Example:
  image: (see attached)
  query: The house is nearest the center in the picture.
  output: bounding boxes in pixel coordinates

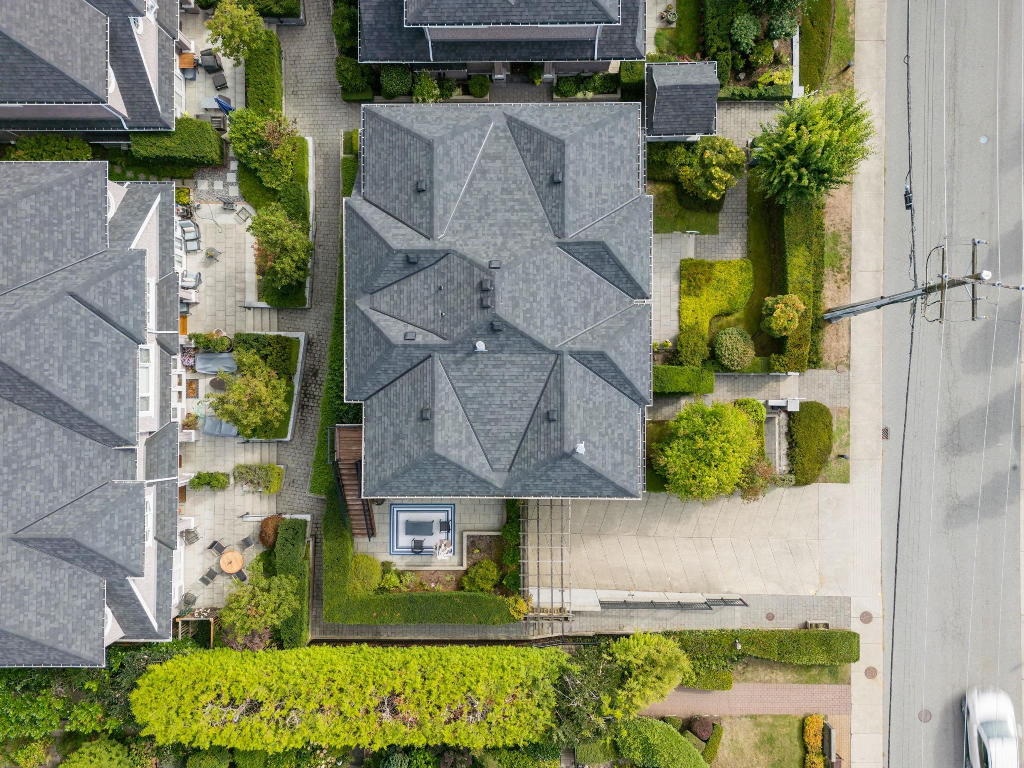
[344,102,653,499]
